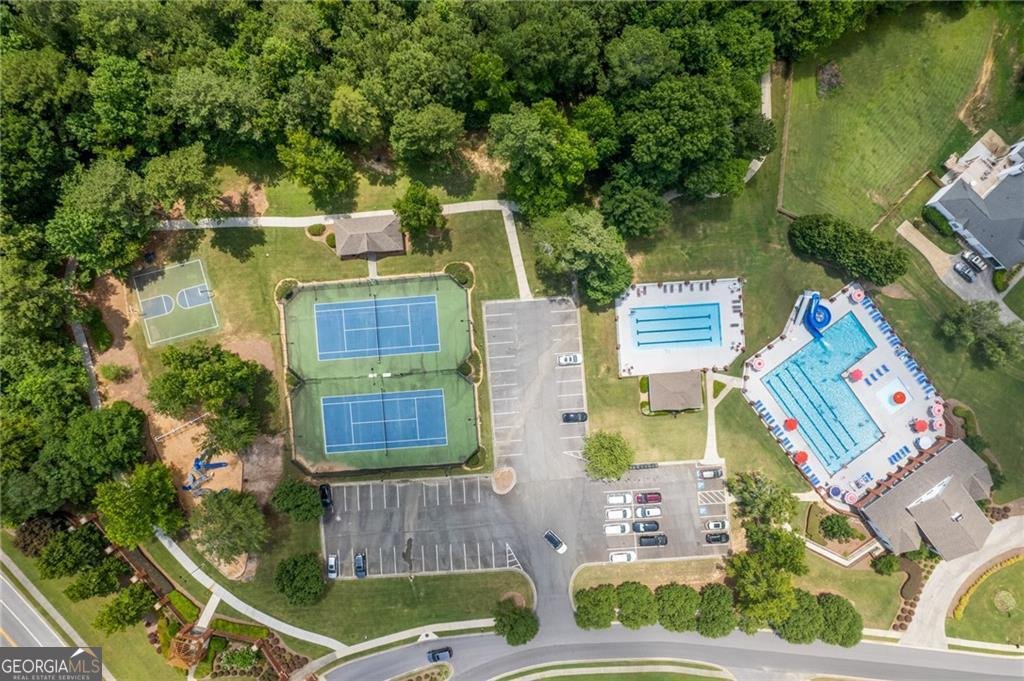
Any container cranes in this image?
No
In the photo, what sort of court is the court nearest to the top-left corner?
basketball court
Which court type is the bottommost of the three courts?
tennis court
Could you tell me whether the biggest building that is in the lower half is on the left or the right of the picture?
right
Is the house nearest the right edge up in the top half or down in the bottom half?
top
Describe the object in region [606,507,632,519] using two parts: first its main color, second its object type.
white vehicle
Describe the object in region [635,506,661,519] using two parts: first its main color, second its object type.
white vehicle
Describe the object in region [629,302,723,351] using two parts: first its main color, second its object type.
blue swimming pool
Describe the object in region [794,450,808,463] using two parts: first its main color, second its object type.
red umbrella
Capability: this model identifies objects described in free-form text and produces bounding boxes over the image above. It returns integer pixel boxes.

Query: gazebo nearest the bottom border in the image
[177,612,225,660]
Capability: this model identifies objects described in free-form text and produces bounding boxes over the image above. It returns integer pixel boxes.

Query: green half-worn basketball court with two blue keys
[130,256,223,348]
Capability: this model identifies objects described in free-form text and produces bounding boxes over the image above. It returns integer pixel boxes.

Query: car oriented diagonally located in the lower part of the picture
[543,530,567,553]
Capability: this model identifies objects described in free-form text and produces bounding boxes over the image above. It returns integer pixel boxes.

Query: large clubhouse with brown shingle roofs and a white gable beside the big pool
[854,439,993,561]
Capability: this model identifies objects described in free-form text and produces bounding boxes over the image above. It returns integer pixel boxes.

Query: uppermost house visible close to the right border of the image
[929,163,1024,268]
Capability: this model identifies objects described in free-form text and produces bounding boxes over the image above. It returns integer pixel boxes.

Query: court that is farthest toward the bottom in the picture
[291,371,478,473]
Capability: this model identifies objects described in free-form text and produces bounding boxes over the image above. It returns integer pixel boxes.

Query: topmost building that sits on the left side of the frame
[334,215,404,256]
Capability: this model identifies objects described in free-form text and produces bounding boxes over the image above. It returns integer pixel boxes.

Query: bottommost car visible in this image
[426,646,452,661]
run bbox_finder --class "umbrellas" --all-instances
[916,436,932,449]
[850,289,864,301]
[843,491,857,505]
[753,358,765,369]
[794,450,808,463]
[849,369,862,381]
[828,485,841,497]
[930,419,945,431]
[912,419,928,432]
[783,418,797,431]
[929,404,944,416]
